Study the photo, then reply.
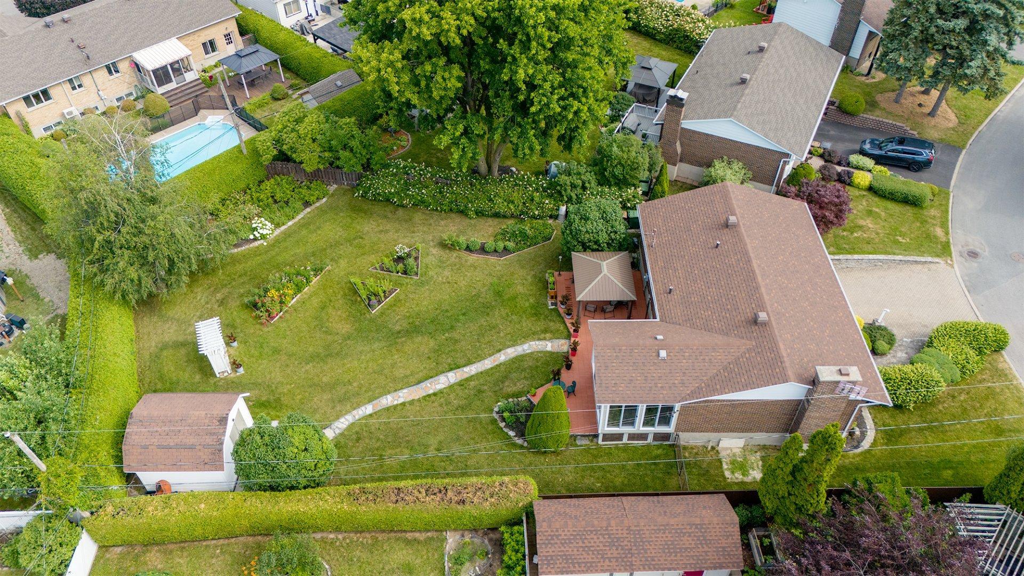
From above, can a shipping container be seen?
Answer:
No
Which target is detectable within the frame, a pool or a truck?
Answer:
pool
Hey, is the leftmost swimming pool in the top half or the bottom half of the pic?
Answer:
top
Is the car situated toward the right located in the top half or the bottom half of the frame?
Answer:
top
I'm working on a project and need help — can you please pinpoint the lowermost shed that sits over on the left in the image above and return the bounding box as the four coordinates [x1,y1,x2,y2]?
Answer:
[121,395,259,491]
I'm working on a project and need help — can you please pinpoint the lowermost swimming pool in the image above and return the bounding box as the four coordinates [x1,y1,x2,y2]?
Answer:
[110,115,246,178]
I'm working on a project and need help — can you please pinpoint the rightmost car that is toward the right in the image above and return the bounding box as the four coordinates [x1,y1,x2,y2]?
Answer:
[860,132,934,168]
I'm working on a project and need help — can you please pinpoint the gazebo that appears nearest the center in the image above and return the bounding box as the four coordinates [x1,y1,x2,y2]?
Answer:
[571,250,637,328]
